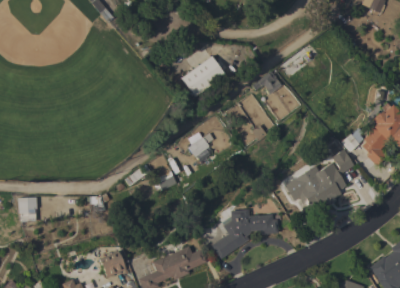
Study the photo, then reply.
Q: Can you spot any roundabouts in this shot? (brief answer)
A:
No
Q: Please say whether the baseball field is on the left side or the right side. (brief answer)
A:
left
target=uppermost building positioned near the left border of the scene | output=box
[18,198,38,222]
